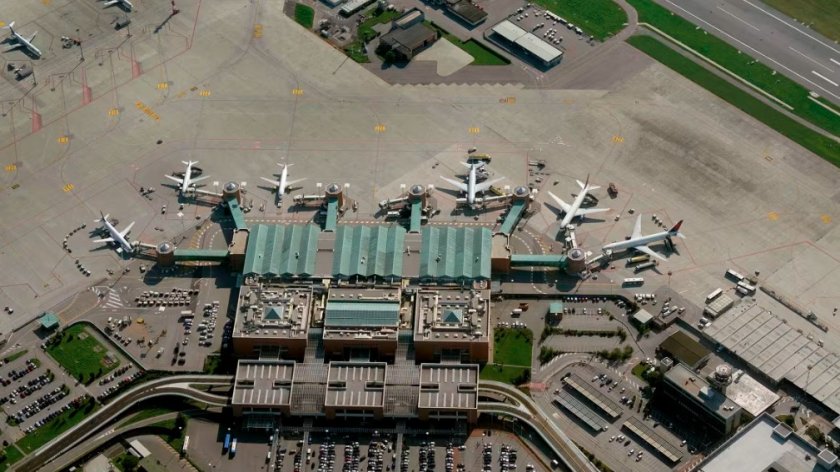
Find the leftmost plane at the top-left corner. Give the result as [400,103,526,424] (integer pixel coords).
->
[2,22,40,55]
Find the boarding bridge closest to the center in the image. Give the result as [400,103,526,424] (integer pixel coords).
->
[377,196,410,209]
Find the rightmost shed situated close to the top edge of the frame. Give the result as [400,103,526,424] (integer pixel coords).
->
[483,19,563,73]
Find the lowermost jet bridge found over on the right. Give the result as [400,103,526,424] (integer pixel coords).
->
[584,250,613,267]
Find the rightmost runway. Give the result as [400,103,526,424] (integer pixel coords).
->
[653,0,840,110]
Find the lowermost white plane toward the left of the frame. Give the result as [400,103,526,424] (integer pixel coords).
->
[95,215,139,253]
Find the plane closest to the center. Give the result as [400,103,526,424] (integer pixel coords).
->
[440,162,505,209]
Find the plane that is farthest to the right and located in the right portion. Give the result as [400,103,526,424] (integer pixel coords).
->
[602,216,685,263]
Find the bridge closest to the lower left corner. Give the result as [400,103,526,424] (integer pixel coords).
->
[0,373,233,472]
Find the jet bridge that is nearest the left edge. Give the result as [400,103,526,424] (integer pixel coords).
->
[129,241,158,254]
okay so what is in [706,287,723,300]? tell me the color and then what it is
white vehicle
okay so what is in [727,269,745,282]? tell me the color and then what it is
white vehicle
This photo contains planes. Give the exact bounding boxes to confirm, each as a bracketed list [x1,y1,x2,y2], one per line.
[602,216,685,263]
[550,175,613,227]
[440,162,505,209]
[163,154,212,193]
[95,215,139,253]
[259,160,307,207]
[2,22,40,55]
[121,0,133,8]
